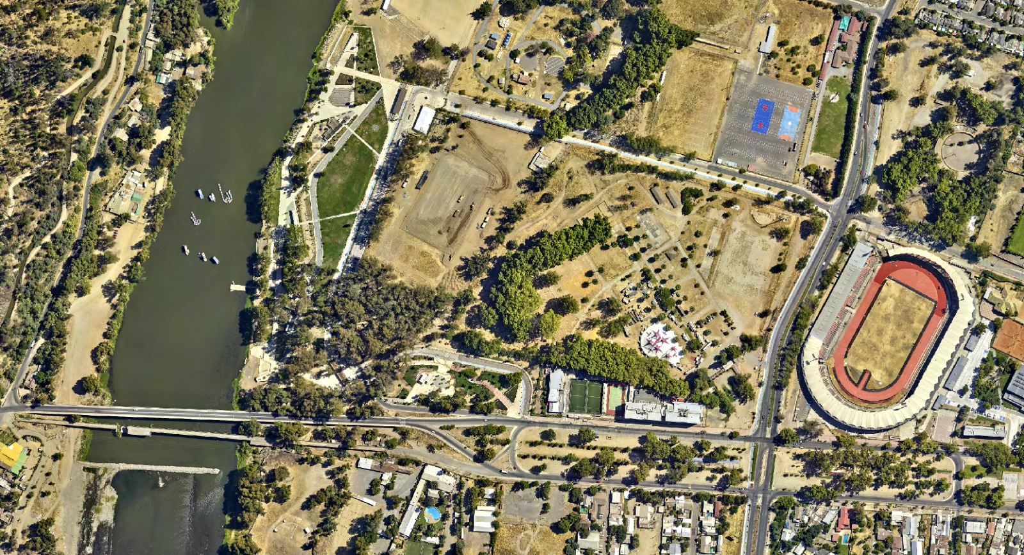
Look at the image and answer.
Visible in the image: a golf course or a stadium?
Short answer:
stadium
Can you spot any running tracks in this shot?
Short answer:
Yes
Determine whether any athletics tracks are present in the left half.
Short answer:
No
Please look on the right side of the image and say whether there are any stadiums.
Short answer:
Yes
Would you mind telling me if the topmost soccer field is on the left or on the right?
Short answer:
right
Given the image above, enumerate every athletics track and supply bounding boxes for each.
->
[830,259,948,407]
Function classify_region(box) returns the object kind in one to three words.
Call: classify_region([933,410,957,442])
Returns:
sports court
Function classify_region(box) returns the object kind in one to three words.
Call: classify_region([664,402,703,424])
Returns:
building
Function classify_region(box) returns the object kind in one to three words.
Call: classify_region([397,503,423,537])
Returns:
house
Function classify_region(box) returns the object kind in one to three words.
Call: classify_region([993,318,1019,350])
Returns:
tennis court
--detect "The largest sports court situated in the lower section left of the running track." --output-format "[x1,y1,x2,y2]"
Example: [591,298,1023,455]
[606,383,625,414]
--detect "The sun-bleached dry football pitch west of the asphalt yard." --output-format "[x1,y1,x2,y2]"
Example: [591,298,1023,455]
[640,49,737,161]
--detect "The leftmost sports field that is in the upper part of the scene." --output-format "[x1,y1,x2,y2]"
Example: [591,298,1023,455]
[406,157,490,253]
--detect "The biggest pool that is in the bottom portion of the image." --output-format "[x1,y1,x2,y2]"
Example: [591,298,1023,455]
[424,506,441,523]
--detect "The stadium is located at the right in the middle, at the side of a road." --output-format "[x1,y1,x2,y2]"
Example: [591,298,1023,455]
[802,242,979,431]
